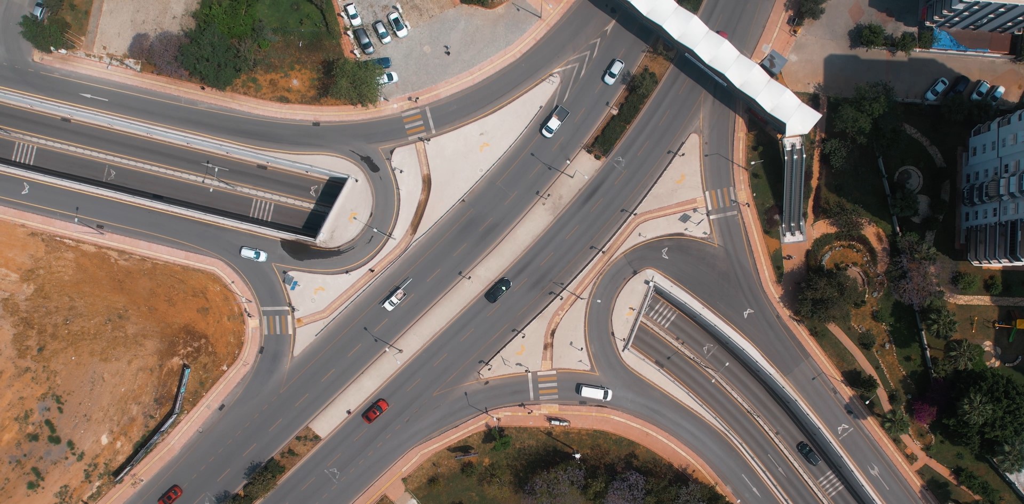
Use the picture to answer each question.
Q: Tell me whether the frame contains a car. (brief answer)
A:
Yes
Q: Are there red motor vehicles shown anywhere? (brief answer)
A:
Yes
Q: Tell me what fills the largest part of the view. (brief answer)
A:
paved ground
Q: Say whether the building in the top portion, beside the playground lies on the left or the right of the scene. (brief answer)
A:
right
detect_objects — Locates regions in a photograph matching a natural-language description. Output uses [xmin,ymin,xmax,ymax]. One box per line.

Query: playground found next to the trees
[953,305,1024,368]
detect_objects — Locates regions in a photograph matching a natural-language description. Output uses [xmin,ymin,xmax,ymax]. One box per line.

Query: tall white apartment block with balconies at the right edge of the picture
[952,108,1024,273]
